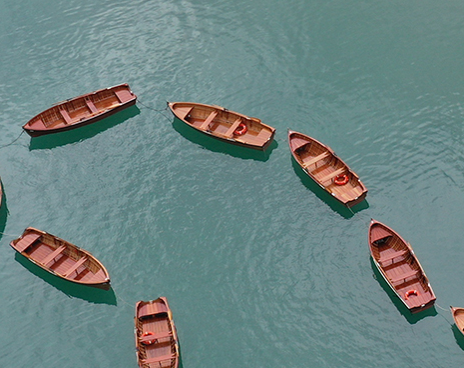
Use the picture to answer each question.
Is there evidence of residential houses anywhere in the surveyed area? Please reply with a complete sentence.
No, there isn't any residential house down there.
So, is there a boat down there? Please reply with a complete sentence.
Yes, I can see a boat in this picture.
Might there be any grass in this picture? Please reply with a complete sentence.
No, grass can't be seen anywhere here.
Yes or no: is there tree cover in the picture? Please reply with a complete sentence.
No, there's no tree cover in this view.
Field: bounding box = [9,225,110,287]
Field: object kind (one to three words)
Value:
boat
